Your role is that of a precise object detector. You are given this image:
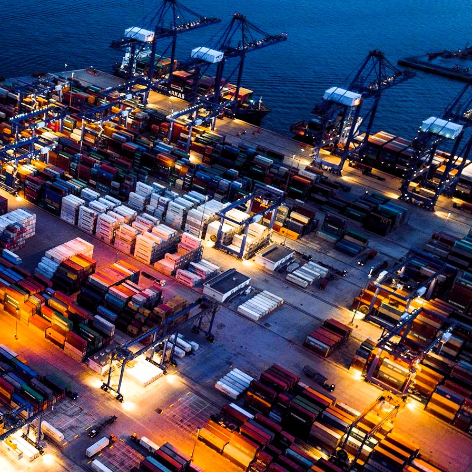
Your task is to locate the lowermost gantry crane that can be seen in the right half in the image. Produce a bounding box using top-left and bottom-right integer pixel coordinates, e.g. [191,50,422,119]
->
[328,387,415,472]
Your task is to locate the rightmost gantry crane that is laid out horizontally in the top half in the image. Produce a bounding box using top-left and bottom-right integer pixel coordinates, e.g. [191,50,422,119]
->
[169,103,238,143]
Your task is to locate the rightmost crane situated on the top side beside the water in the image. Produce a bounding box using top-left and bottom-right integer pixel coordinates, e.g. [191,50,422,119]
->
[394,86,472,212]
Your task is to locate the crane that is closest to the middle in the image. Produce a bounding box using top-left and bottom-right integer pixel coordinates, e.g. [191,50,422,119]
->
[212,192,296,260]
